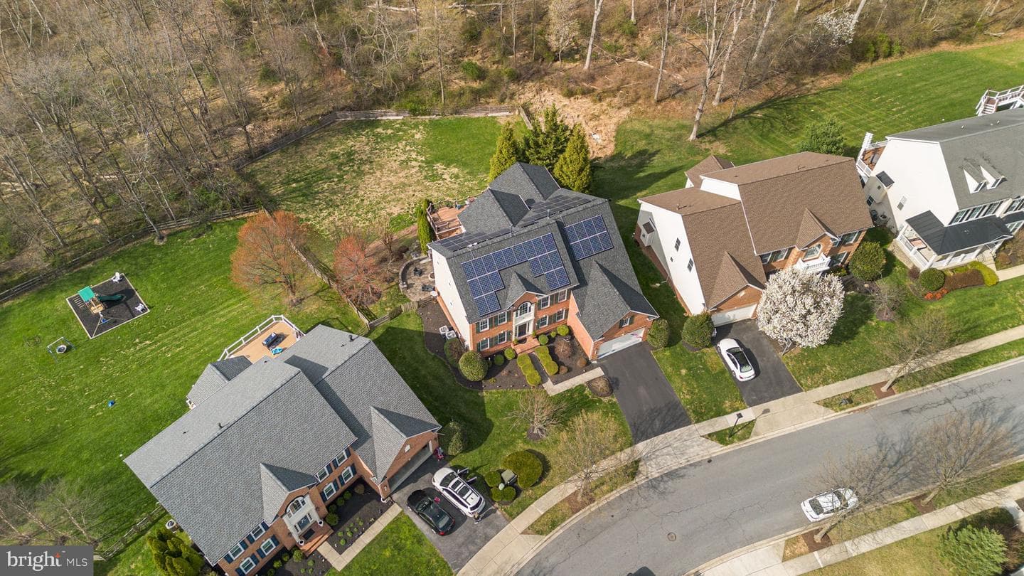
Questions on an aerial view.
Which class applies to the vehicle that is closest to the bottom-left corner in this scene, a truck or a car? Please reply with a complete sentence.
From above, the vehicle that is closest to the bottom-left corner can be identified as a car.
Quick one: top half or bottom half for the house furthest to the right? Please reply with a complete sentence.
Seen from above, the house furthest to the right lies in the top half of the view.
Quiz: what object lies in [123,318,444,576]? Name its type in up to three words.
house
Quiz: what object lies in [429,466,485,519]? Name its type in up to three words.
car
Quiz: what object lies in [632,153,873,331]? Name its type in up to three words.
house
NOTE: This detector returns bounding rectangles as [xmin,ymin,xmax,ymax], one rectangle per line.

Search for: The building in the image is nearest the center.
[427,165,659,361]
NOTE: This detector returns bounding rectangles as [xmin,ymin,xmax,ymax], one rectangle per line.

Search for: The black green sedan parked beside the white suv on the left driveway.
[401,487,457,542]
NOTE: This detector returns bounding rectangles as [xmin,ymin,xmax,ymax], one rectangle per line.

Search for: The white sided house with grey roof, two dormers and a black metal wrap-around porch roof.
[845,92,1024,274]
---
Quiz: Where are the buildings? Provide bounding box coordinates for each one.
[427,165,659,361]
[123,318,444,576]
[632,153,873,331]
[845,92,1024,274]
